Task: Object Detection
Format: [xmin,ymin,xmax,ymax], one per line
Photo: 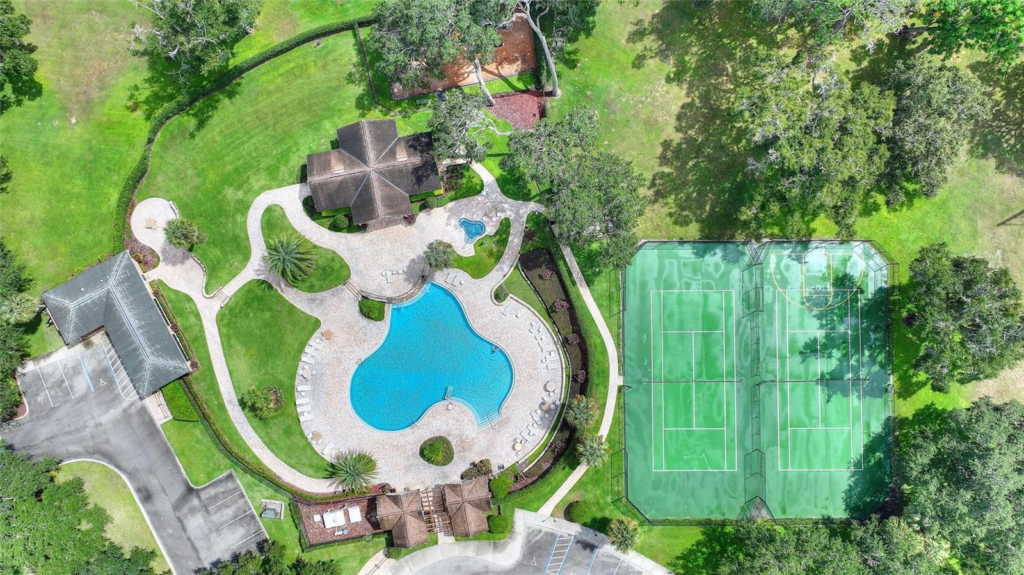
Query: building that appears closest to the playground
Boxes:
[307,119,442,224]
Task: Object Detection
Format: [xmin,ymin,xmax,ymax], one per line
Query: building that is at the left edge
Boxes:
[40,250,191,402]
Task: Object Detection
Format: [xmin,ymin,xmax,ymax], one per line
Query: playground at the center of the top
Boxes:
[389,5,537,99]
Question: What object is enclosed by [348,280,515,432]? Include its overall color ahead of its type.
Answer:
blue swimming pool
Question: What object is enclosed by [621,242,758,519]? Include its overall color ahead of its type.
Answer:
green tennis court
